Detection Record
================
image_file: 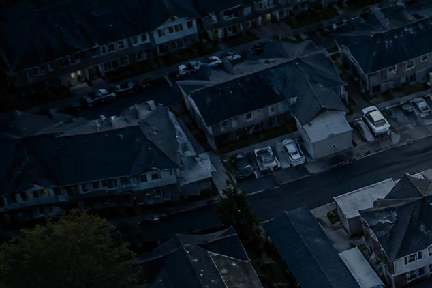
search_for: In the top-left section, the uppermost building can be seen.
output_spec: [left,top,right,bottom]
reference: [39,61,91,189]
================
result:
[0,0,194,102]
